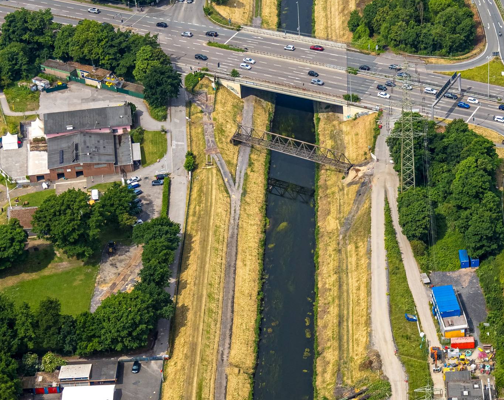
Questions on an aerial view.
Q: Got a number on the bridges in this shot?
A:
2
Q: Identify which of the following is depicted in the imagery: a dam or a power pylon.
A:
power pylon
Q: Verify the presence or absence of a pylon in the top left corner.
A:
No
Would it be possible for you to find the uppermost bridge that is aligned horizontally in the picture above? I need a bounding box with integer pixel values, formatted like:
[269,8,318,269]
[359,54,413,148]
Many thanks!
[204,23,379,119]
